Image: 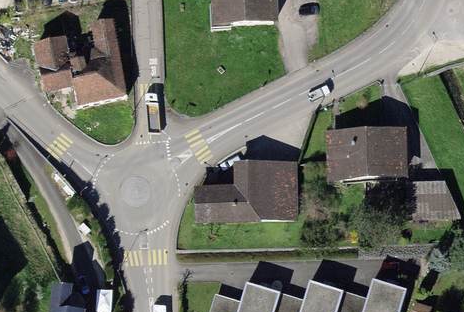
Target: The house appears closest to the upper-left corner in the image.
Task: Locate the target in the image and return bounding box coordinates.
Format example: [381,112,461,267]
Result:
[32,36,69,70]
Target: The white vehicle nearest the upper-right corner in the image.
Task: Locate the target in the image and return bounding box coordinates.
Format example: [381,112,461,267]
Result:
[306,82,333,100]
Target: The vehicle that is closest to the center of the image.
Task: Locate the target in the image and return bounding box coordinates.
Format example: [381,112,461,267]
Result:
[220,154,242,169]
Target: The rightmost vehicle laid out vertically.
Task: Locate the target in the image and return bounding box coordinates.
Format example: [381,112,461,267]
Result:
[144,92,160,134]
